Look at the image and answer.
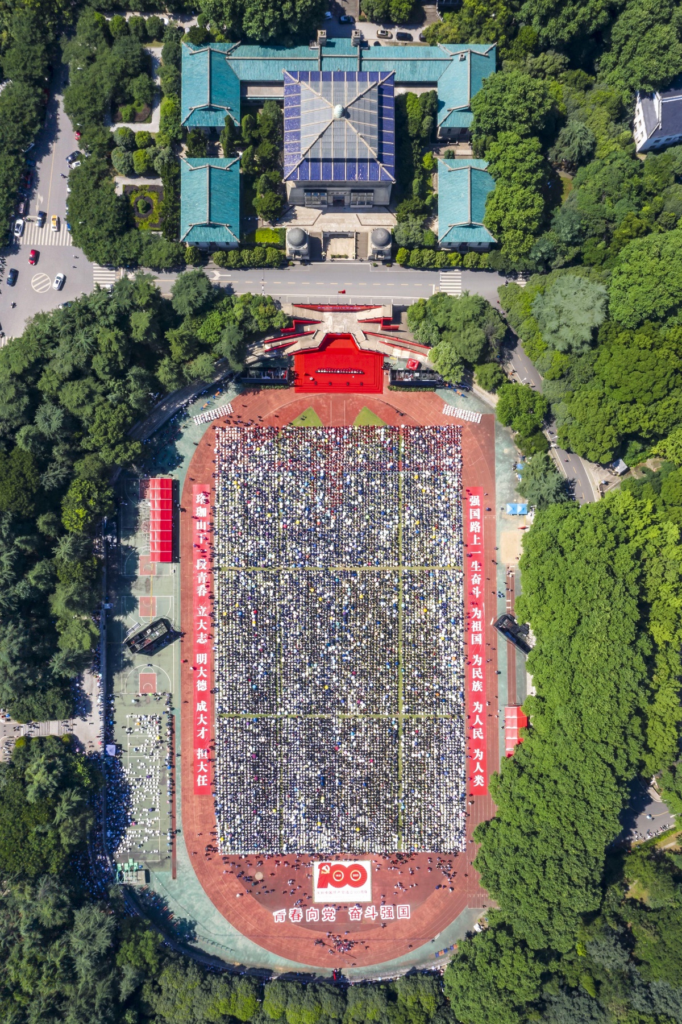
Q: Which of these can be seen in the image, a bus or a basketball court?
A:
basketball court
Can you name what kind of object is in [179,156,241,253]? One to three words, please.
building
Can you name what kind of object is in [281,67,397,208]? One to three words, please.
building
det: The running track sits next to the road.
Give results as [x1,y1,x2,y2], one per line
[182,366,498,966]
